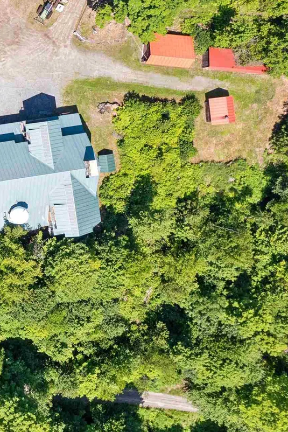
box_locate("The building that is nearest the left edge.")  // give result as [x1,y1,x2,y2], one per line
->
[0,113,101,237]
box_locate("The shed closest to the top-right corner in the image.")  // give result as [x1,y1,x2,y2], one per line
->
[194,48,267,75]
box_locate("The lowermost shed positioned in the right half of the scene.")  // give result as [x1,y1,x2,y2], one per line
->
[200,96,235,124]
